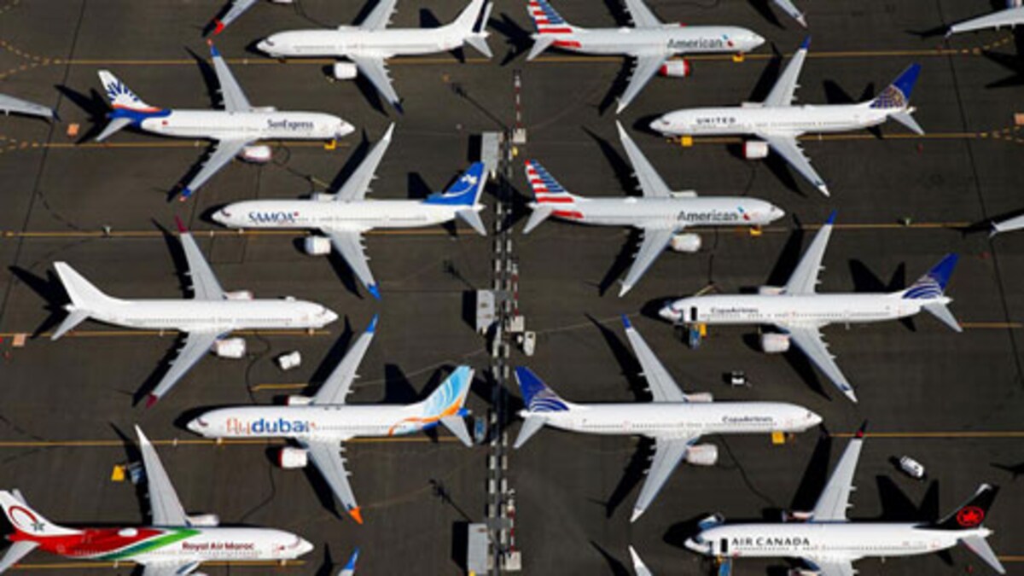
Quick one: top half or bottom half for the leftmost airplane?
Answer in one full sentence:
The leftmost airplane is in the top half of the image.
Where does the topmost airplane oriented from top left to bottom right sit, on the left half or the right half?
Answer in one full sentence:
It is on the right.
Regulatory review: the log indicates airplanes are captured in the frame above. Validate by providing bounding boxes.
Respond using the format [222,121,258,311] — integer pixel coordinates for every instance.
[0,92,63,118]
[528,0,764,114]
[515,312,821,525]
[213,125,488,301]
[257,0,494,115]
[526,122,785,299]
[187,314,473,526]
[989,213,1024,235]
[207,0,251,34]
[768,0,806,30]
[683,422,1003,576]
[650,35,924,198]
[659,210,961,404]
[54,217,339,410]
[0,427,314,576]
[631,546,654,576]
[98,40,356,202]
[942,0,1024,33]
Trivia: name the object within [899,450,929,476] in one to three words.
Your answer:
vehicle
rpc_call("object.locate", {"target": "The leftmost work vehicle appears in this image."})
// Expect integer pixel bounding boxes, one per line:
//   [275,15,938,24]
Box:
[278,351,300,368]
